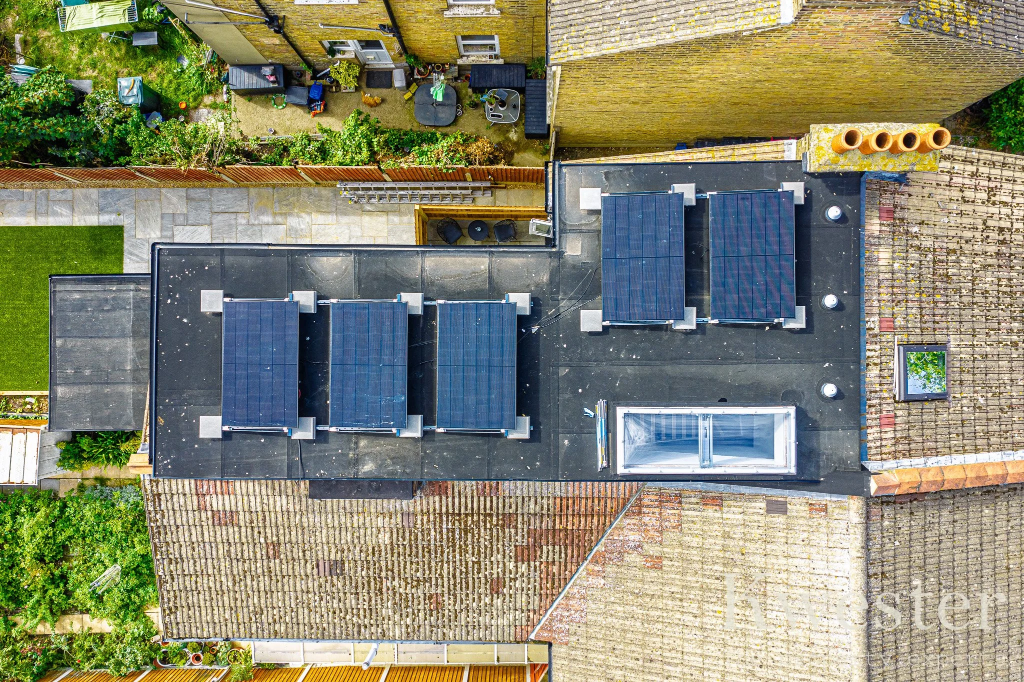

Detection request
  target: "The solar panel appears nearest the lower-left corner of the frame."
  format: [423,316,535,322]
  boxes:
[221,296,302,433]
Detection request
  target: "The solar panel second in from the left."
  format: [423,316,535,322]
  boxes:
[329,297,409,433]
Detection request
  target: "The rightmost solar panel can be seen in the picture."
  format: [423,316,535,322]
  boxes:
[708,187,796,324]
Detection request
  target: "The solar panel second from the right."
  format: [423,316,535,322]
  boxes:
[601,188,685,326]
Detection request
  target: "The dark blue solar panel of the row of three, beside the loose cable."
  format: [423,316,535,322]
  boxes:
[436,298,518,434]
